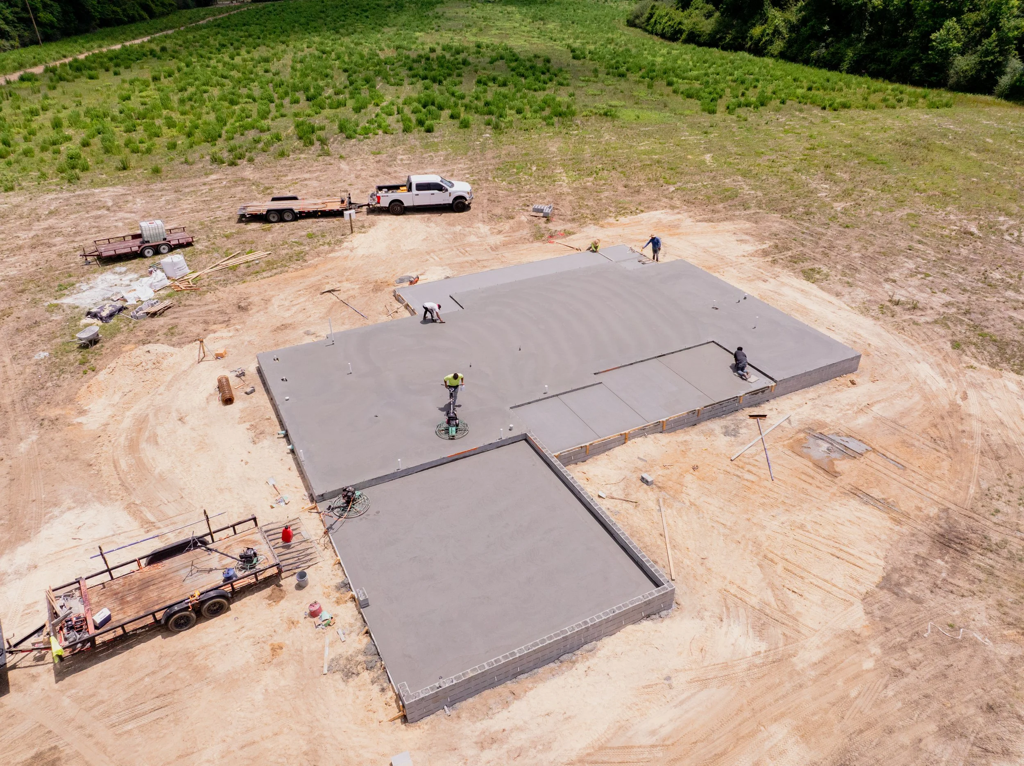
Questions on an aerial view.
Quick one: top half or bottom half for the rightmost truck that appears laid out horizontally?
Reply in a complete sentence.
You can find the rightmost truck that appears laid out horizontally in the top half.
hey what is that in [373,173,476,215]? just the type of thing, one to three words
truck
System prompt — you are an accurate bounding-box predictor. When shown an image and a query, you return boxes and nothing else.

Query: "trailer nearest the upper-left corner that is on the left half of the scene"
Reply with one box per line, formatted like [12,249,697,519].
[74,226,194,261]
